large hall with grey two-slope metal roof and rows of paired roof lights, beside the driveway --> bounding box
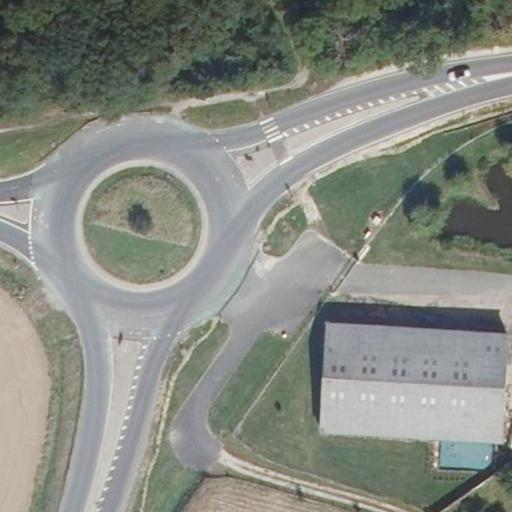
[320,322,508,445]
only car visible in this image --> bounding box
[448,70,472,82]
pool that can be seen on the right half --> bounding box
[431,442,496,473]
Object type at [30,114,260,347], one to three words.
roundabout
